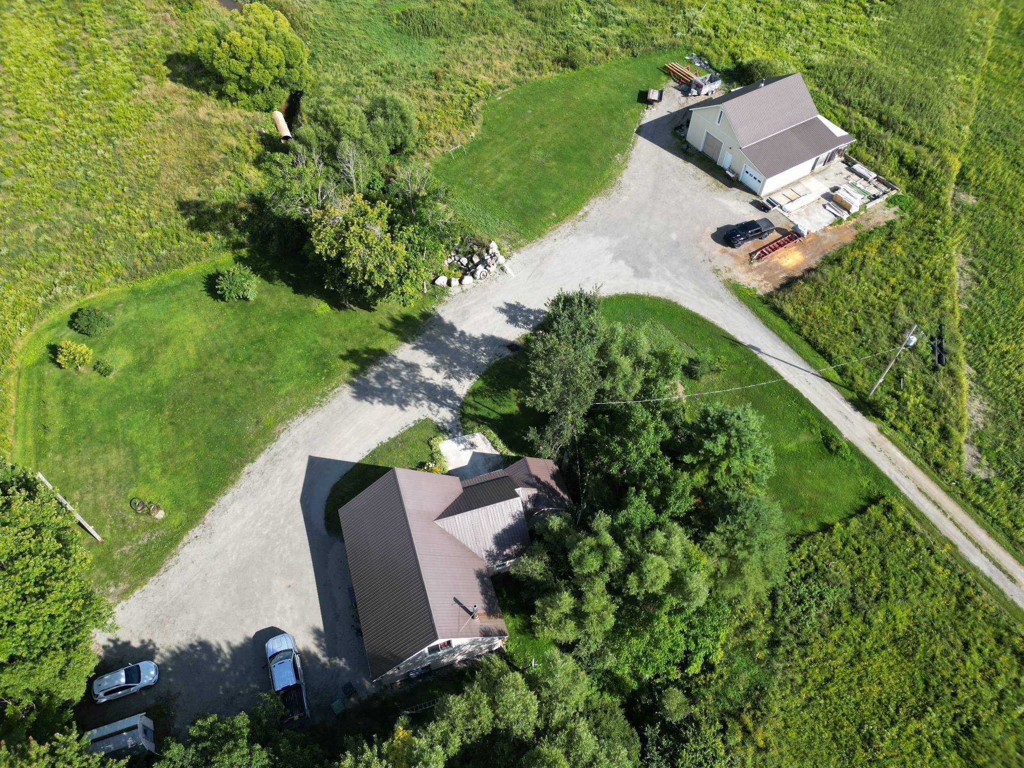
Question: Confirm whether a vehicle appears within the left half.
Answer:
Yes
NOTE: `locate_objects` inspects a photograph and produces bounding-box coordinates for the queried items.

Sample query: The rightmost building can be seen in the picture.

[686,72,853,194]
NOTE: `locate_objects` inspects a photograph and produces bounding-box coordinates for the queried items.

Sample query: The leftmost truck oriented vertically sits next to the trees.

[263,626,313,728]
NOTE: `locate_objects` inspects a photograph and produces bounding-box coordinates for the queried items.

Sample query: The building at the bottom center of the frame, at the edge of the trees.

[340,456,574,686]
